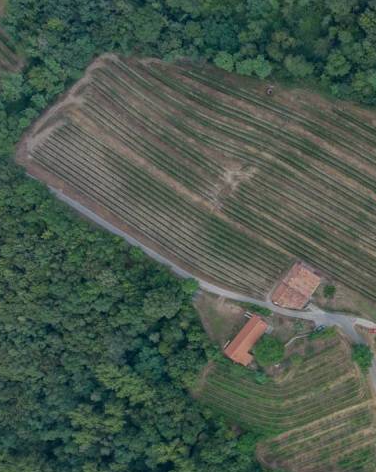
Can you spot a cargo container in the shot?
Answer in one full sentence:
No, I can't see a single cargo container in this photo.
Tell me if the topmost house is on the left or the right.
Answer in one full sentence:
The topmost house is on the right side of the image.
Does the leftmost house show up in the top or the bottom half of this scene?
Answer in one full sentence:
The leftmost house is in the bottom half of the image.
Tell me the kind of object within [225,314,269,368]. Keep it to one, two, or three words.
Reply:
house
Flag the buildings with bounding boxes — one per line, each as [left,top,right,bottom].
[225,314,269,368]
[276,260,320,311]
